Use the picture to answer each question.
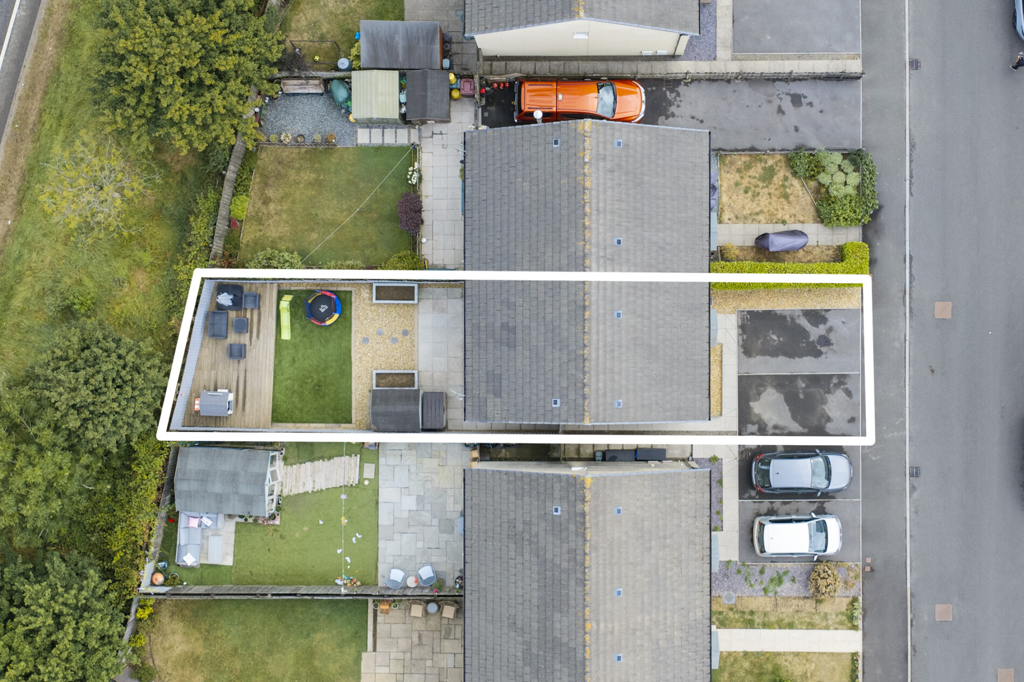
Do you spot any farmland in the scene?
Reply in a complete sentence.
No, no farmland is visible.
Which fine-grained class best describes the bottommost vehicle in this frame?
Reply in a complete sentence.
I'd say the bottommost vehicle is an automobile.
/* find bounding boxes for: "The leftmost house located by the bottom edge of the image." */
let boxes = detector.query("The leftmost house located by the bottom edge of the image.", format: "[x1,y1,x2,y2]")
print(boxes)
[461,460,719,682]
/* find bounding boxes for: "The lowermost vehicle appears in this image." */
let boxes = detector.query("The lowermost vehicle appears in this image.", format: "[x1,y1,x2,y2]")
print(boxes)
[751,512,841,563]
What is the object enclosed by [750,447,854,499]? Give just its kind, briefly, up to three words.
car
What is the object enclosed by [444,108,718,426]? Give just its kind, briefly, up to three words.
house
